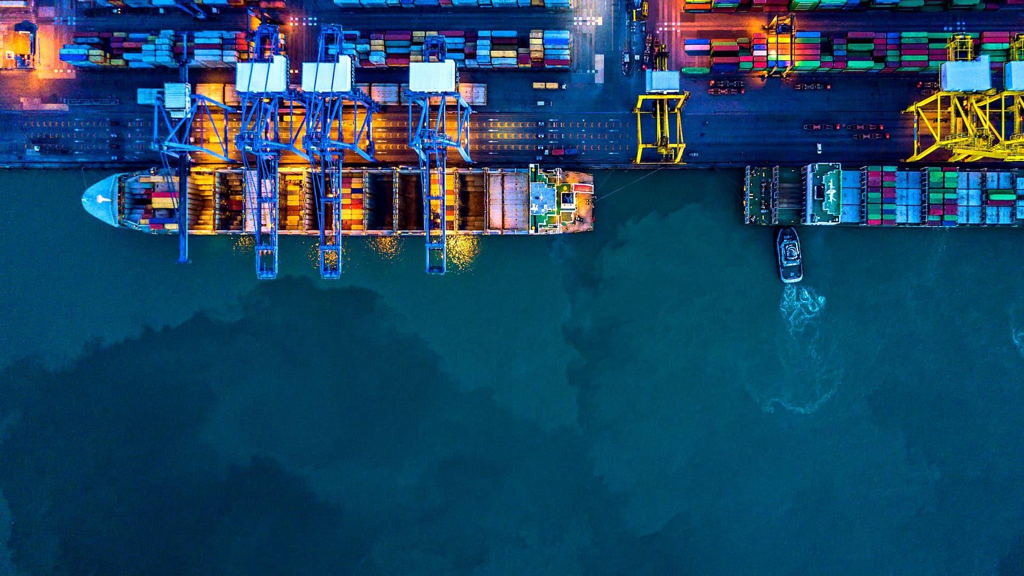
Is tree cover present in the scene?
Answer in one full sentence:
No, no tree cover is visible.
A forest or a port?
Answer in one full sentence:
This image shows a port.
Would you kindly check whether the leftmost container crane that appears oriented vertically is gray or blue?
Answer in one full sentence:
In this view, the leftmost container crane that appears oriented vertically is blue.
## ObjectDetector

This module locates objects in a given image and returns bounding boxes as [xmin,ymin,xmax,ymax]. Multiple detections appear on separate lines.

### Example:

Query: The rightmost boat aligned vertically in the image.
[777,226,806,285]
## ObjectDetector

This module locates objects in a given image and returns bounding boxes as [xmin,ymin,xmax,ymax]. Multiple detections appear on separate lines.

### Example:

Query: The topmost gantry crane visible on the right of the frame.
[758,11,796,77]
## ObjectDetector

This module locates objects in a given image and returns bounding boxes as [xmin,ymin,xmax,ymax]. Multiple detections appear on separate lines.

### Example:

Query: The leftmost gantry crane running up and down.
[137,32,242,262]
